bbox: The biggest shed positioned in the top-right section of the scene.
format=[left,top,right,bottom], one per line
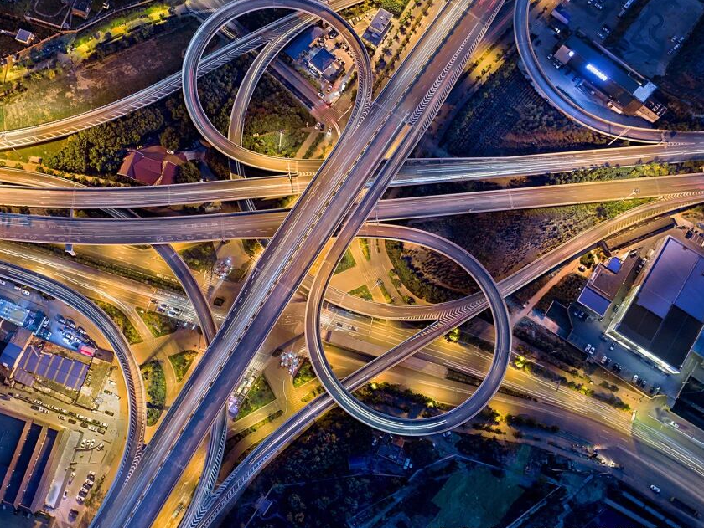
[565,36,644,122]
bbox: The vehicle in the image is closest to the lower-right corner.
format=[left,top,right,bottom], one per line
[670,497,704,520]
